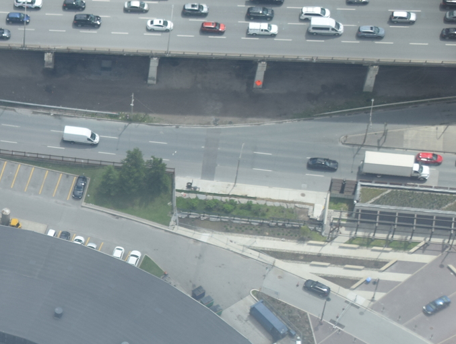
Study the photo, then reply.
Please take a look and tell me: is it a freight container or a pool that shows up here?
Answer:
freight container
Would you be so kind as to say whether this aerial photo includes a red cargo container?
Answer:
No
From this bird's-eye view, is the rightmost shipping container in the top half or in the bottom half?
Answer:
bottom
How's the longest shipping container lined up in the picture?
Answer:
on a diagonal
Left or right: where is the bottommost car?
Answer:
right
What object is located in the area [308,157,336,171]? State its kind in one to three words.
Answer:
car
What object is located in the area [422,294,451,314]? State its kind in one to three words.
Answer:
car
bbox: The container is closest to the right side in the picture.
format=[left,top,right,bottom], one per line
[244,293,290,340]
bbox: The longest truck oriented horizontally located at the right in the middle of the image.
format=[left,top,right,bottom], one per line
[362,151,426,179]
